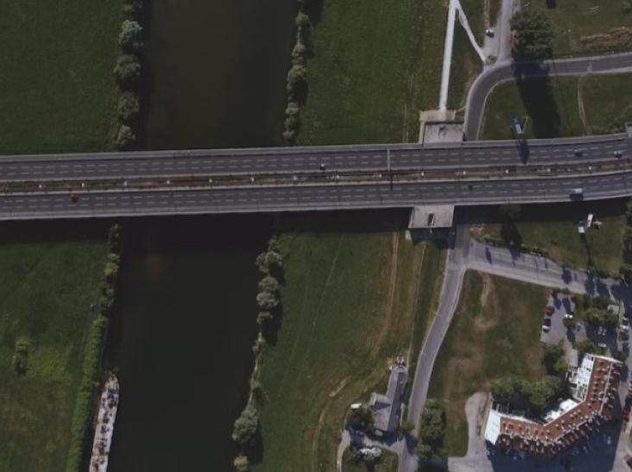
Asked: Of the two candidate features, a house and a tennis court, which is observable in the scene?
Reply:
house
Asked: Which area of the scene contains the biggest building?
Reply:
bottom right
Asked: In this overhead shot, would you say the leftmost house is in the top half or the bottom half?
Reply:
bottom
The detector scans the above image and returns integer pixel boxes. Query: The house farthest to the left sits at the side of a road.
[368,361,408,436]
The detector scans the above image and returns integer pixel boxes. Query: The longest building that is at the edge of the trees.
[487,353,623,456]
